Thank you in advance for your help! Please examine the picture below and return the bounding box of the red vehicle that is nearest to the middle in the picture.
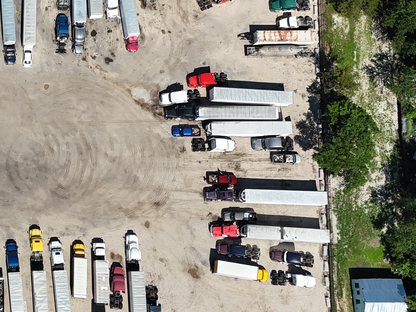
[205,170,236,184]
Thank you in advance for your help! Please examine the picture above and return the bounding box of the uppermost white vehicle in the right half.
[277,15,313,30]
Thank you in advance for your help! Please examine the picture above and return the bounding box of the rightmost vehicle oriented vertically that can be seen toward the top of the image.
[118,0,139,53]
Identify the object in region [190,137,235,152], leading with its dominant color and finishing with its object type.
white vehicle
